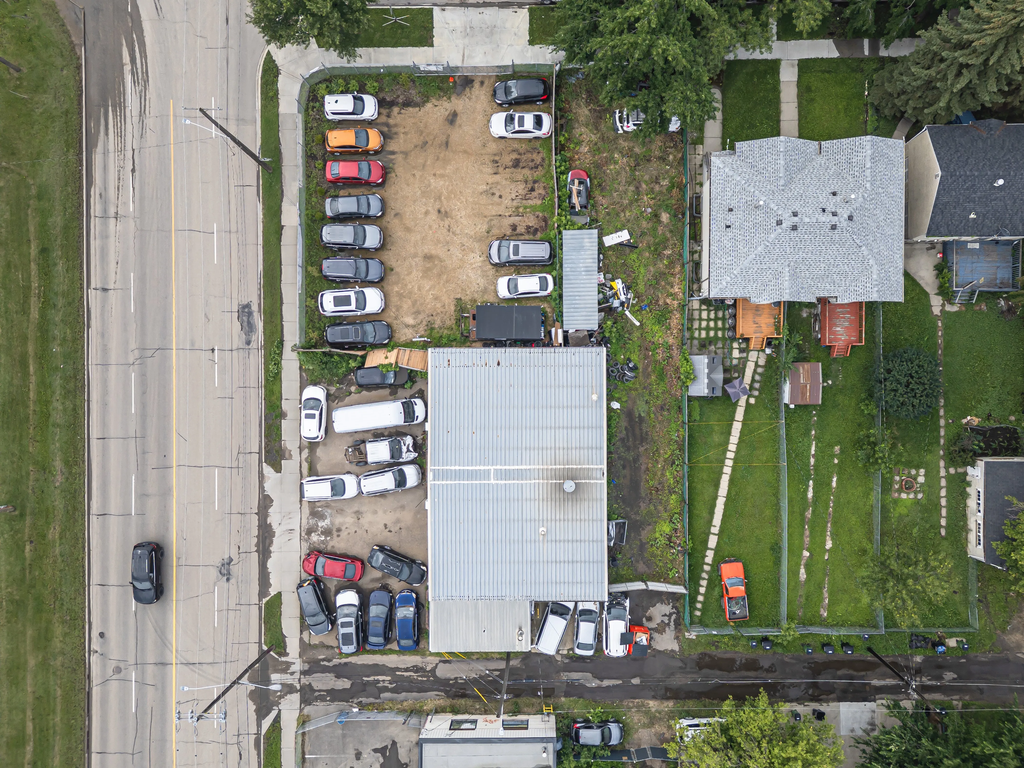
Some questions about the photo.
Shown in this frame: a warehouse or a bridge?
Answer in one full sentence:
It is a warehouse that can be seen here.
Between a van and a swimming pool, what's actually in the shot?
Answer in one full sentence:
I can see a van in this picture.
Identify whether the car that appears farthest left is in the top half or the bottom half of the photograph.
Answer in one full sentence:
Seen from above, the car that appears farthest left lies in the bottom half of the view.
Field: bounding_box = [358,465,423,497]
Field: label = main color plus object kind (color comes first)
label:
white car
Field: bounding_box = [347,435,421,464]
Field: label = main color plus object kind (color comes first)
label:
white truck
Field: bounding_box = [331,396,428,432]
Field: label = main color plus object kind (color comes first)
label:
white van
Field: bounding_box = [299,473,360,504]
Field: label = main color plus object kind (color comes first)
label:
white car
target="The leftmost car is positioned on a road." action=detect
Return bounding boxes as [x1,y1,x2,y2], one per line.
[129,541,164,603]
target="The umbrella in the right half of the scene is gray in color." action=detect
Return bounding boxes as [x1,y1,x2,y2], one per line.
[724,377,750,402]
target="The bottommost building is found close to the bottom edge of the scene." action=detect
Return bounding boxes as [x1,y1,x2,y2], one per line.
[418,707,558,768]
